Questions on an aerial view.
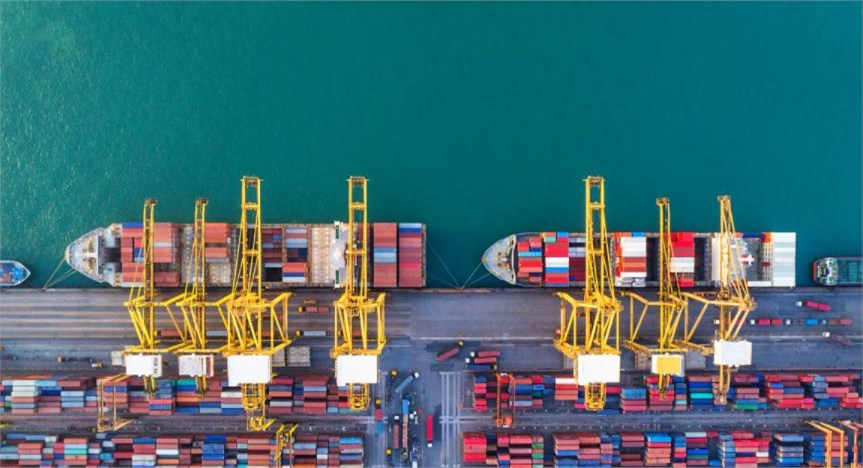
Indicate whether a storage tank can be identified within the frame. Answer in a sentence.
No, I can't see a single storage tank in this photo.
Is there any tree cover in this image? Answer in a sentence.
No, there's no tree cover in this view.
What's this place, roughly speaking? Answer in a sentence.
This looks like a port.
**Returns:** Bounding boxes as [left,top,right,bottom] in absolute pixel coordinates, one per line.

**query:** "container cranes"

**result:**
[490,368,517,431]
[225,179,296,412]
[99,372,139,432]
[620,200,689,395]
[332,179,392,413]
[246,373,279,432]
[554,179,624,413]
[680,196,754,406]
[276,420,306,468]
[823,418,863,468]
[173,200,237,395]
[121,200,188,393]
[799,418,845,468]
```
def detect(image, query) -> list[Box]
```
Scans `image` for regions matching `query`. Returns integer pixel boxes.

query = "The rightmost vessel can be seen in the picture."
[806,257,863,286]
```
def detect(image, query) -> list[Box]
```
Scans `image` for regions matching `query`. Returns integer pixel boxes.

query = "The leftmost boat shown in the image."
[0,261,35,285]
